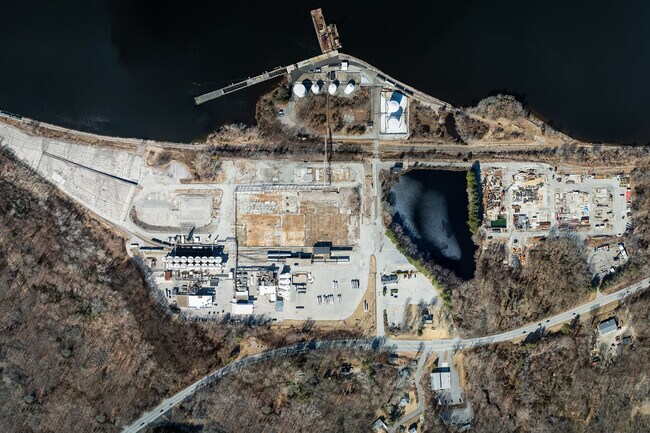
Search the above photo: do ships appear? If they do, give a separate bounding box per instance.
[310,9,331,52]
[327,24,342,50]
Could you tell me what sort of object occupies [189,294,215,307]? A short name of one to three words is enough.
building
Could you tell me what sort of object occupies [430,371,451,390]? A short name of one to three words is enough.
building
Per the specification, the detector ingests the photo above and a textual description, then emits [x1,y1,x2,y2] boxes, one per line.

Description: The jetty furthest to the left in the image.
[194,65,292,104]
